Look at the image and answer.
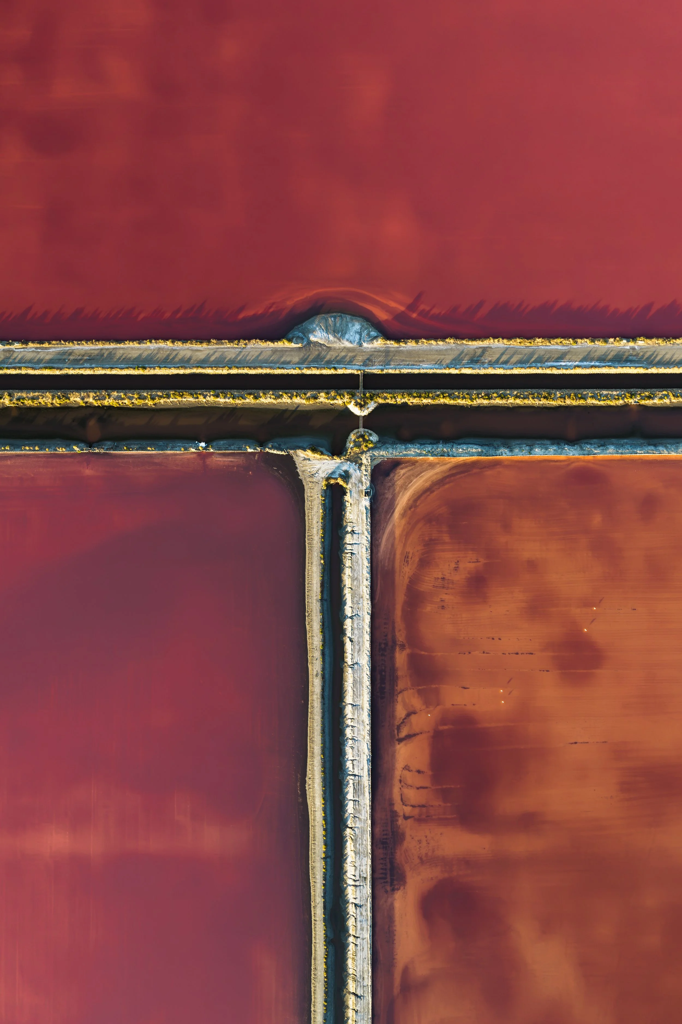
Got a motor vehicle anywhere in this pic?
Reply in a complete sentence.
No, no motor vehicle is visible in the scene.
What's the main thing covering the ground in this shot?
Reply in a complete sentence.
Most of the picture is covered by water.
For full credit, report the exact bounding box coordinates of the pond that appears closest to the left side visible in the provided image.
[0,451,313,1024]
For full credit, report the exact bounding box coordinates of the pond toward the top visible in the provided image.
[0,0,682,341]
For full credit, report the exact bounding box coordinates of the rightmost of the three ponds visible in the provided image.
[370,454,682,1024]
